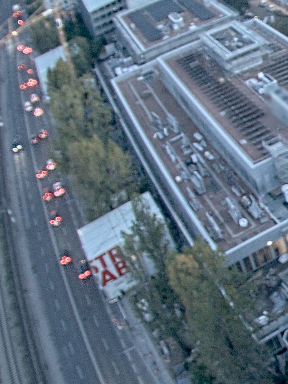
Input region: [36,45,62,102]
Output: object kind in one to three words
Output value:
shed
